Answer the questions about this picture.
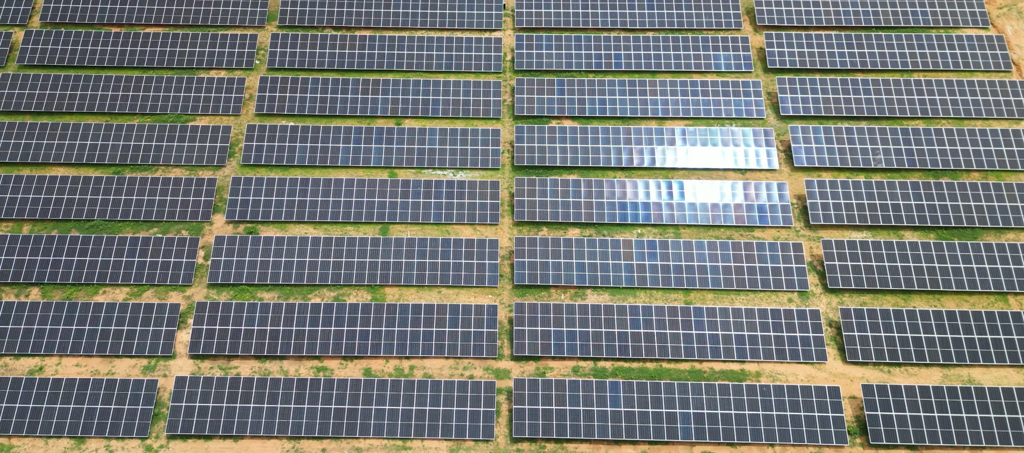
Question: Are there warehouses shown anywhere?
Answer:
No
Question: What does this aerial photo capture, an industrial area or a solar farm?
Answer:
solar farm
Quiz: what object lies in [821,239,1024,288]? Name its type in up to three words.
solar array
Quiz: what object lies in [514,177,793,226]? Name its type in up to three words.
solar array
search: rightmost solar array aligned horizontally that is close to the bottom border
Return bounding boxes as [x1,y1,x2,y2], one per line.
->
[861,384,1024,445]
